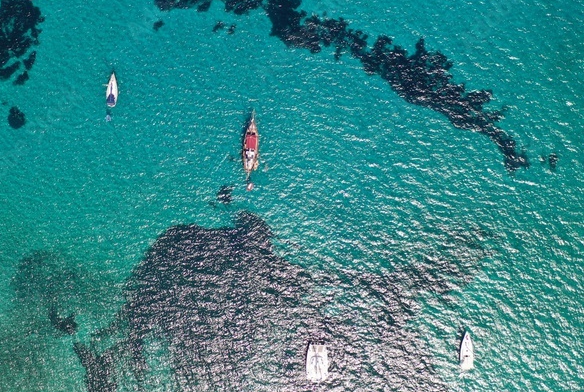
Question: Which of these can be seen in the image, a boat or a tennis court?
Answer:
boat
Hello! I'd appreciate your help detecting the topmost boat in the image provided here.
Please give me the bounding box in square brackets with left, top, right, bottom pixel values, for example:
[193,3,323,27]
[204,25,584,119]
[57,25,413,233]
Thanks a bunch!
[105,73,118,108]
